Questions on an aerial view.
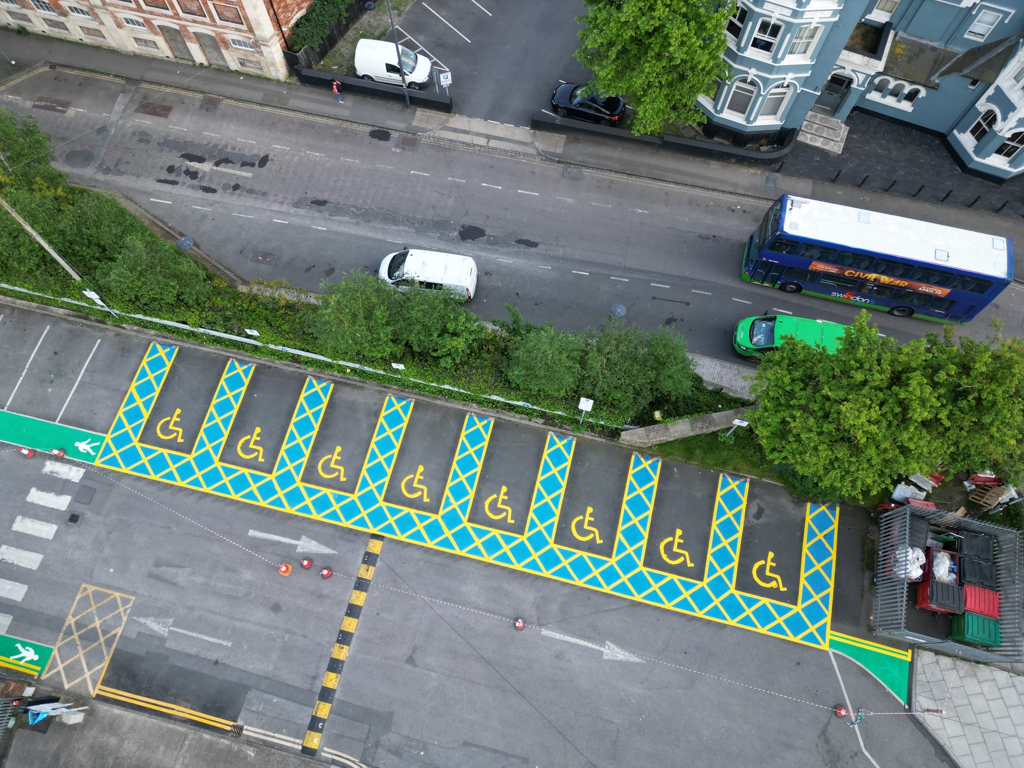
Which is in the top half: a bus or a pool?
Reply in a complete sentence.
Looking in the top half, you will find a bus.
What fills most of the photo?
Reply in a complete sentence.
For the most part, this view shows paved ground.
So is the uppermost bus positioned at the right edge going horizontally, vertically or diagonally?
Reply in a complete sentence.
Seen from above, the uppermost bus positioned at the right edge lies horizontally.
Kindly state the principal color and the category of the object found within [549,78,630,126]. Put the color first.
black car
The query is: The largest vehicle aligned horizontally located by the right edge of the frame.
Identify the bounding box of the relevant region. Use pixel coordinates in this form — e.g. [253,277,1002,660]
[743,196,1014,323]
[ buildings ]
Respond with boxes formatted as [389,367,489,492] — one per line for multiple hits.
[675,0,1024,153]
[0,0,332,85]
